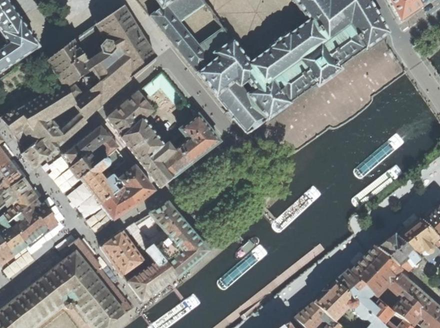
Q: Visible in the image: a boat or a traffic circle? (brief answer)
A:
boat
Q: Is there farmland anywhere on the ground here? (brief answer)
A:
No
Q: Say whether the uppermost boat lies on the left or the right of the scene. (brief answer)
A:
right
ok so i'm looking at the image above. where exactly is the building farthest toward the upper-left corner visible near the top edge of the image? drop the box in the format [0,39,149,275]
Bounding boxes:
[0,0,42,78]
